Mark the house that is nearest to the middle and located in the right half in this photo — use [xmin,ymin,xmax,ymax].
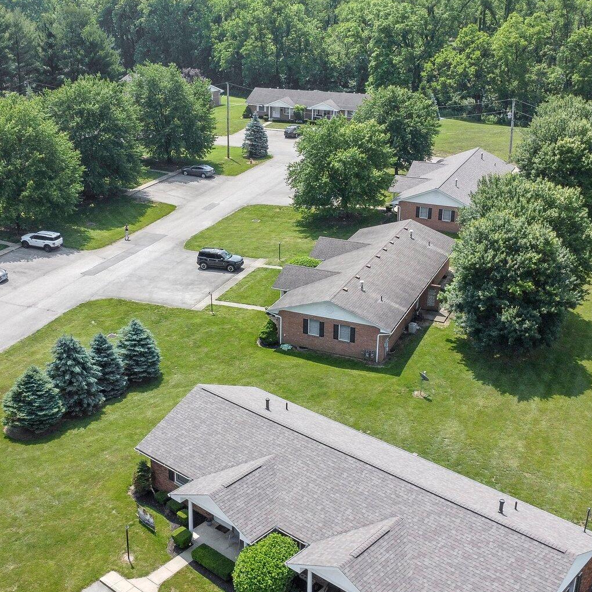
[265,217,460,364]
